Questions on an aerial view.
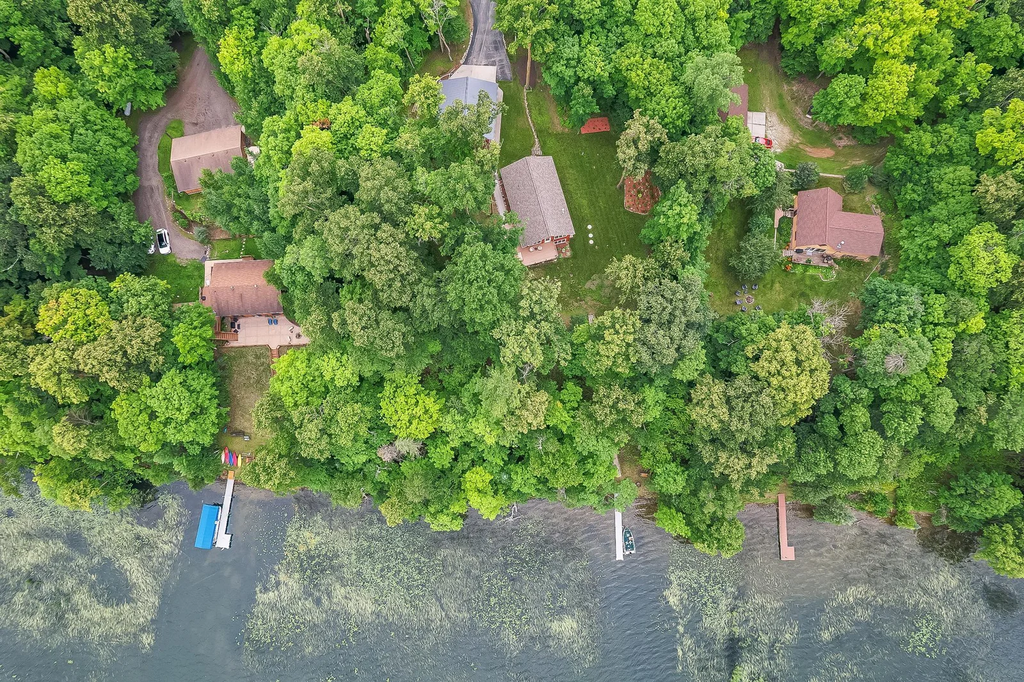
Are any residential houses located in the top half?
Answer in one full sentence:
Yes, you'll find a residential house in the top half.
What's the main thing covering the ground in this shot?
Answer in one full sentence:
Most of the picture is covered by trees.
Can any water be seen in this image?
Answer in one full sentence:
Yes, the picture does contain water.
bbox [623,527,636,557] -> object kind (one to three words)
boat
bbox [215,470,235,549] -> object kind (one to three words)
pier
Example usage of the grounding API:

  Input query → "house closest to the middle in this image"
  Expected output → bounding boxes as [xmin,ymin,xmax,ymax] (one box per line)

[500,156,575,249]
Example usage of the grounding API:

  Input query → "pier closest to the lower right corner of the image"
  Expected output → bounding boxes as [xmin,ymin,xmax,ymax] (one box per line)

[778,494,795,560]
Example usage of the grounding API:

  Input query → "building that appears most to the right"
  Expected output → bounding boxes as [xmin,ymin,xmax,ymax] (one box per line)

[789,189,886,257]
